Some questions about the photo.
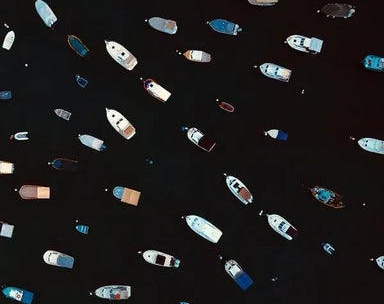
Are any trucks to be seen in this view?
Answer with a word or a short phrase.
No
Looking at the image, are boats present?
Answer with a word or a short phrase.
Yes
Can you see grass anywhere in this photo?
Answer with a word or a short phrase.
No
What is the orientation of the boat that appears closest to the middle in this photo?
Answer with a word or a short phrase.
at an angle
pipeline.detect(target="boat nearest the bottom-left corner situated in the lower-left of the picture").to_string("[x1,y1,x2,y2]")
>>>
[2,288,32,304]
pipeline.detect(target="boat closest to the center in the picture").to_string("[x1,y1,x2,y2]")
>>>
[186,128,216,152]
